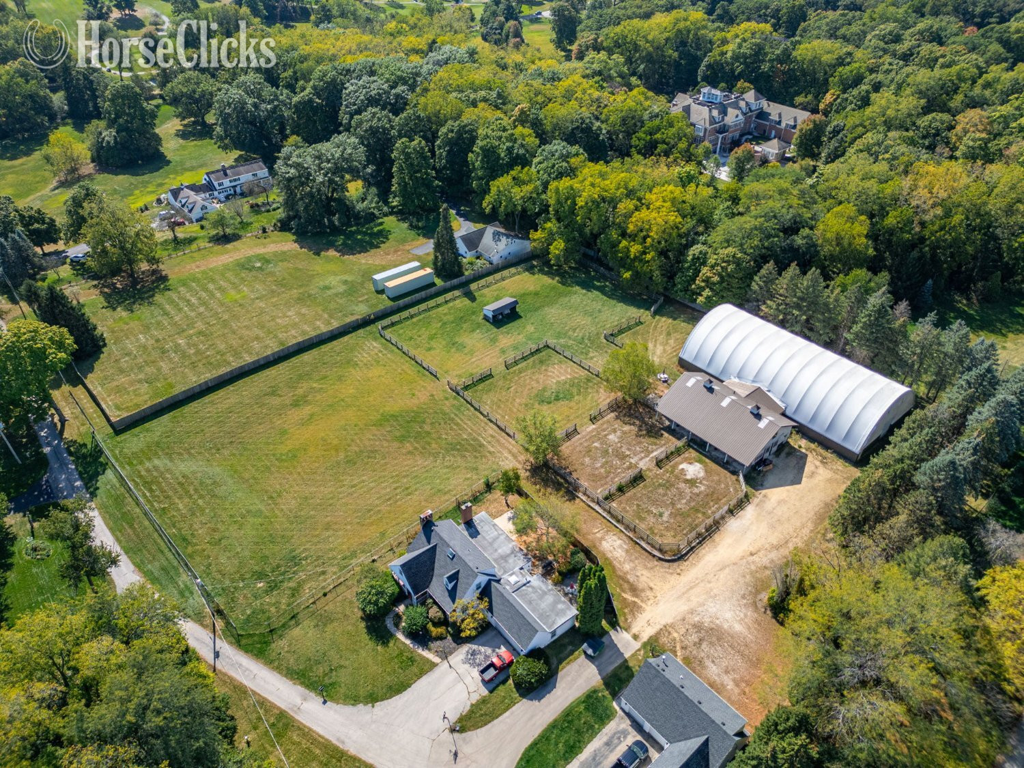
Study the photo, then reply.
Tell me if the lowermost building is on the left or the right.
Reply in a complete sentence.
It is on the right.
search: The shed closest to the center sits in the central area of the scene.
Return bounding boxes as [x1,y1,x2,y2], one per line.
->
[482,300,519,324]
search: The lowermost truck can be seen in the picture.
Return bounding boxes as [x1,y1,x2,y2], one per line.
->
[609,735,656,768]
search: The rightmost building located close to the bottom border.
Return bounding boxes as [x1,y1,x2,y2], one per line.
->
[618,651,761,768]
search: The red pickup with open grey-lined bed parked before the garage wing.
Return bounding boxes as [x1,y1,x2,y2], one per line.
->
[476,653,517,687]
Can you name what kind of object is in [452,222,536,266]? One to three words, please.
house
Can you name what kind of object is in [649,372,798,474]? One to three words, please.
barn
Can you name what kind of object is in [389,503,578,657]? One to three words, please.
house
